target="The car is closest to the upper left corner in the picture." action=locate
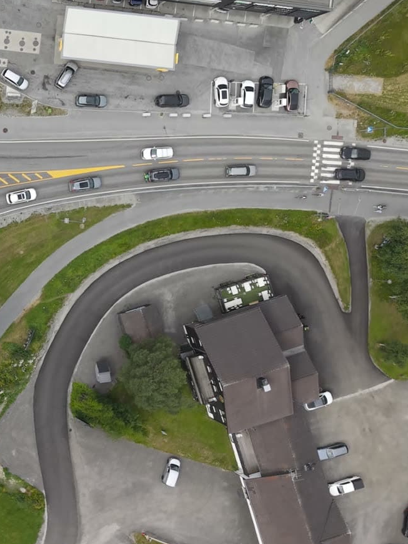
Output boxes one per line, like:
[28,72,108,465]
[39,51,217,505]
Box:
[0,67,30,91]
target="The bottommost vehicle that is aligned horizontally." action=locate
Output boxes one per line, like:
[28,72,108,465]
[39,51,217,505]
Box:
[331,476,363,495]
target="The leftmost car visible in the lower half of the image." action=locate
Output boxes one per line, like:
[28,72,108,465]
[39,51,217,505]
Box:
[163,456,182,487]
